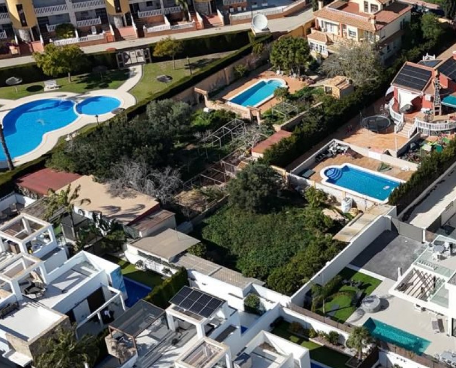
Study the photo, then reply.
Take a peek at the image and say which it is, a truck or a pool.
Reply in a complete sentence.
Looking from above, you can make out a pool.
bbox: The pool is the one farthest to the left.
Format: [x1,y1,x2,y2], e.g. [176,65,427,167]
[0,97,81,163]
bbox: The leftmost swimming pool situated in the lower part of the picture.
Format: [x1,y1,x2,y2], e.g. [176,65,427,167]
[120,272,156,308]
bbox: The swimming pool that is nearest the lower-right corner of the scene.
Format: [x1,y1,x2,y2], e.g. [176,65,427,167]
[362,315,434,356]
